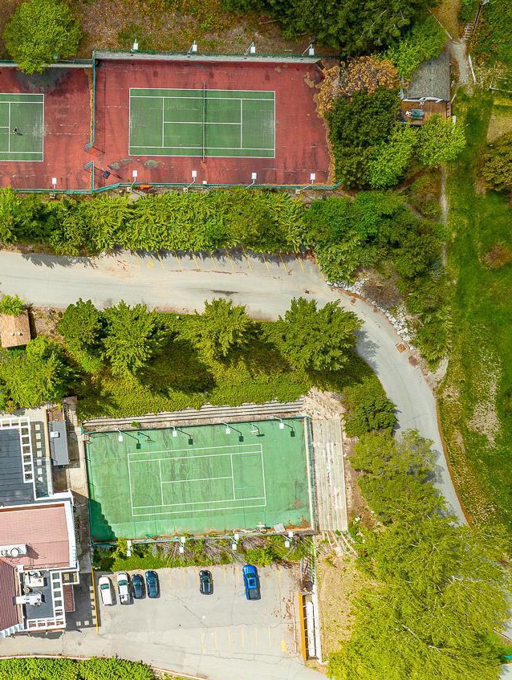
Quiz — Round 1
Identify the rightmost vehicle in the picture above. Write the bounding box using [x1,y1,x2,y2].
[244,565,259,600]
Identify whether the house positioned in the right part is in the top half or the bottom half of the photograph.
top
